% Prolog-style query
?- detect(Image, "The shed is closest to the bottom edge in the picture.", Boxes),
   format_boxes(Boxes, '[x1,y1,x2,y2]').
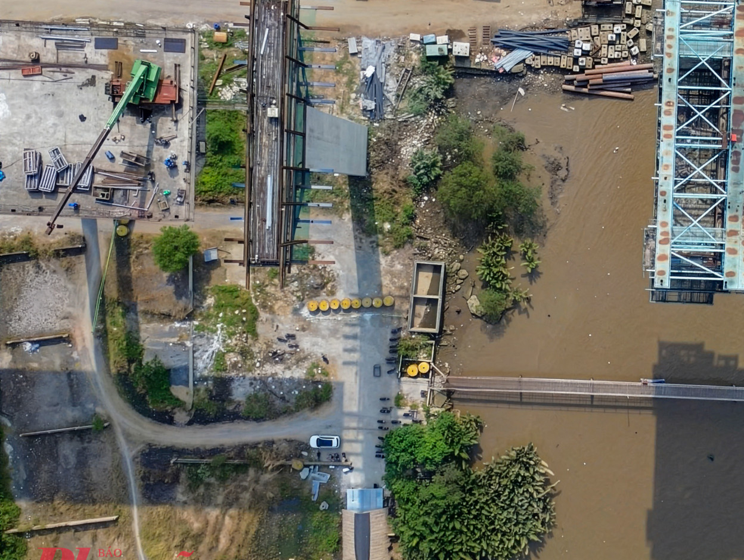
[341,510,389,560]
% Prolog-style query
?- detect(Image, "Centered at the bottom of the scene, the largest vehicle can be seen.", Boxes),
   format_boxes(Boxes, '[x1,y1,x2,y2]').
[311,433,342,449]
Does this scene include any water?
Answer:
Yes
